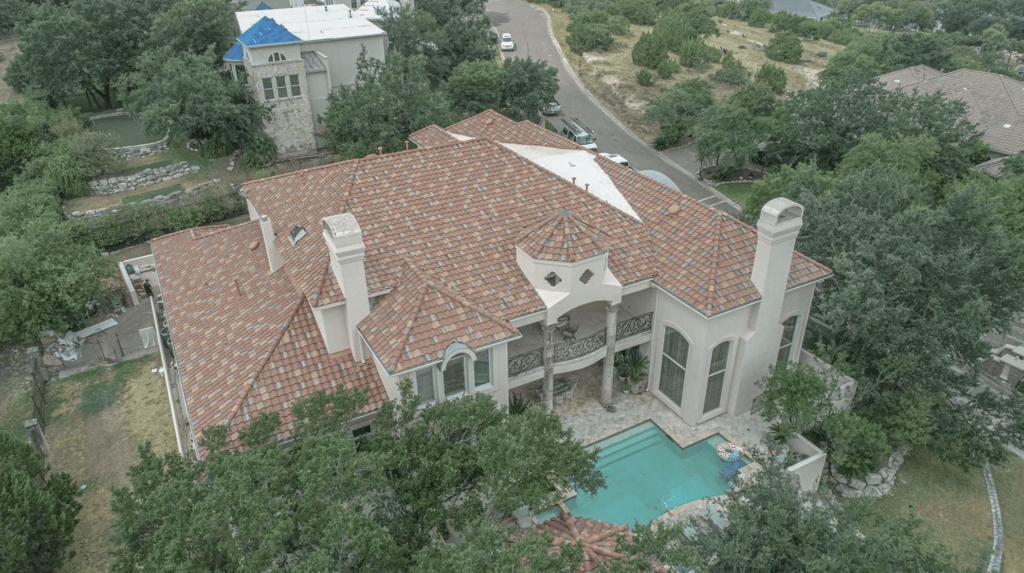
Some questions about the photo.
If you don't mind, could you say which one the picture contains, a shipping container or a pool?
pool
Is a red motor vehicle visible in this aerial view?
No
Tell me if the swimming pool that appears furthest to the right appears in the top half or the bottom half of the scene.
bottom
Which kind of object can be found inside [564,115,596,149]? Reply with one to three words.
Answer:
van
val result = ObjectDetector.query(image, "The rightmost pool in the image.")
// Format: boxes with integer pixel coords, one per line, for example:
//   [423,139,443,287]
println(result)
[560,413,764,533]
